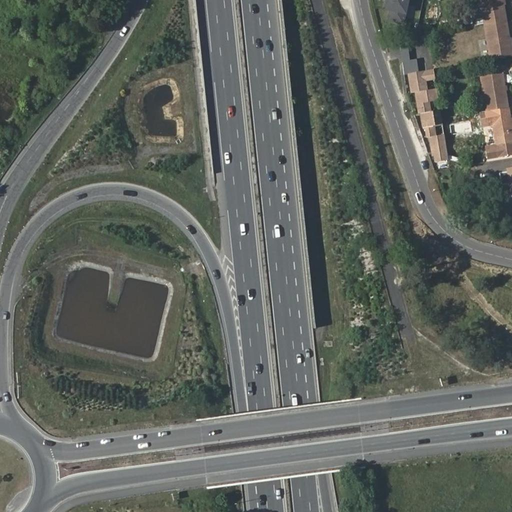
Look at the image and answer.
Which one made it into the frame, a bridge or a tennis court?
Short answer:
bridge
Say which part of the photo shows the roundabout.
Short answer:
bottom left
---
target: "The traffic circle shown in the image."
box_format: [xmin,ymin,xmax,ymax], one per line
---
[0,372,86,512]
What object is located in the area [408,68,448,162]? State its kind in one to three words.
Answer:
house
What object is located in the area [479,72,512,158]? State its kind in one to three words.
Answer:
house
